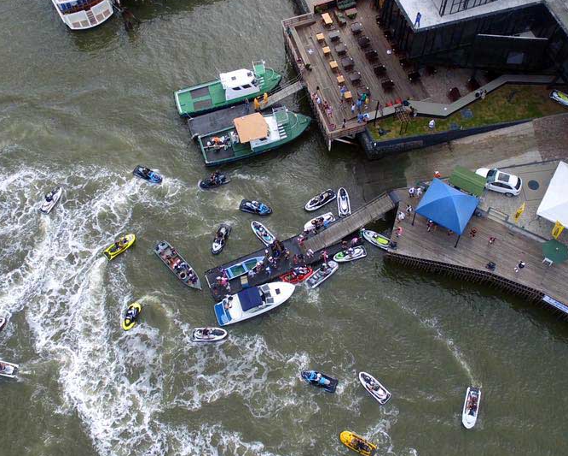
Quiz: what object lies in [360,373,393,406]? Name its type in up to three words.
boat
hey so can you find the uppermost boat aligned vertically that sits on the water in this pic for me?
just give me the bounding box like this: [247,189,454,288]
[337,187,350,216]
